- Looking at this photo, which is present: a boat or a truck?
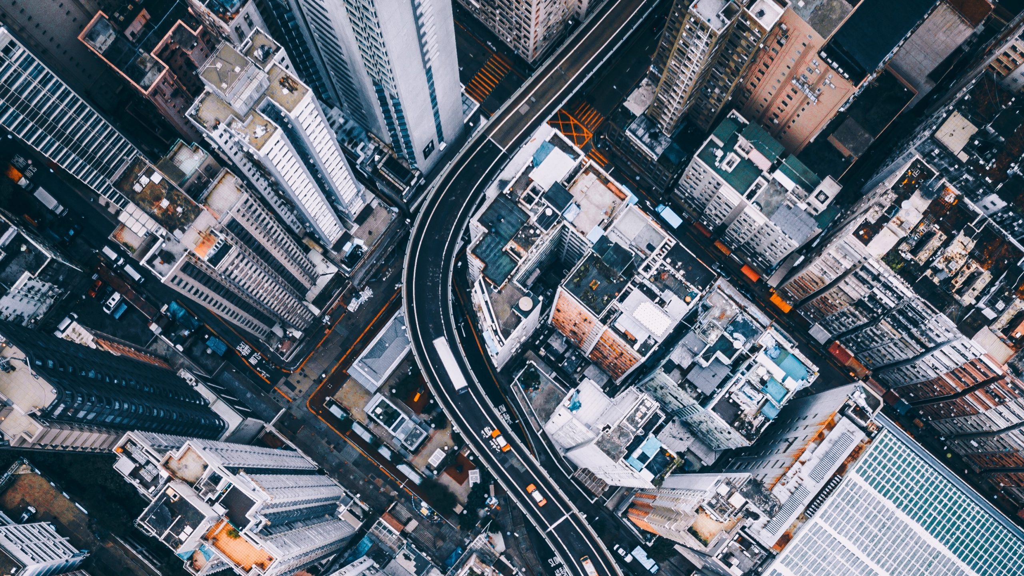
truck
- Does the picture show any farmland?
No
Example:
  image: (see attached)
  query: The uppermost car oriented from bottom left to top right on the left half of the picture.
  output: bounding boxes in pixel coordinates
[62,223,80,241]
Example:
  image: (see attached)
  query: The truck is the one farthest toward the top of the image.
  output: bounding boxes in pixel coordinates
[0,159,27,185]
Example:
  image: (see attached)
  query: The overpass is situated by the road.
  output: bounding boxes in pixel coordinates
[402,0,654,576]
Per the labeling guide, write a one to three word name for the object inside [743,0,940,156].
building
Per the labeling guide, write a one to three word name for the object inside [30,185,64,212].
truck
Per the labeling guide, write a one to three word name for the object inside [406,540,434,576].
building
